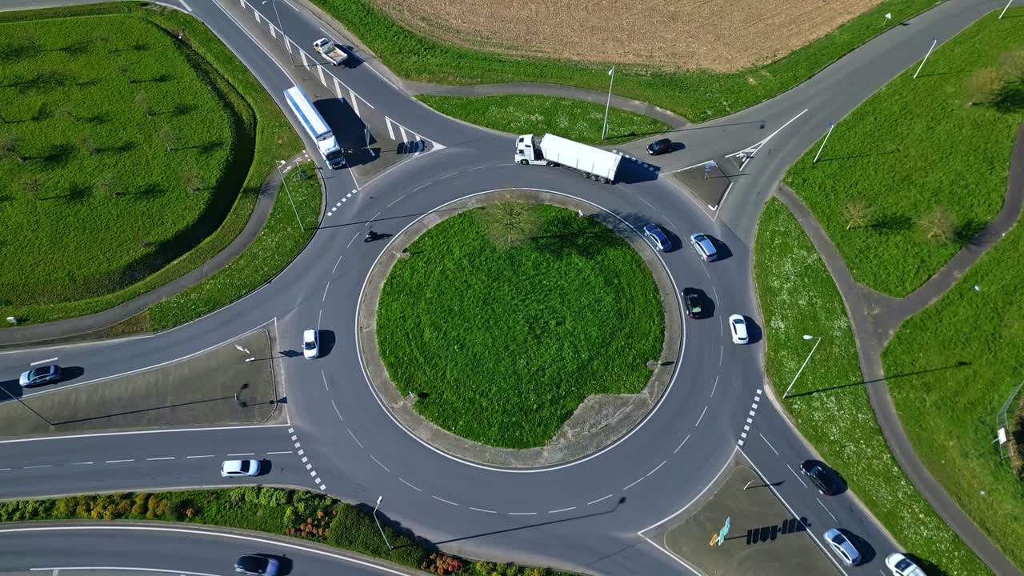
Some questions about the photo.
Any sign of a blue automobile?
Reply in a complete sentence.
Yes, the frame does contain a blue automobile.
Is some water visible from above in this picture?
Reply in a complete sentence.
No, the scene doesn't show any water.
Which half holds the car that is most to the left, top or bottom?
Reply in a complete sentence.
You can find the car that is most to the left in the bottom half.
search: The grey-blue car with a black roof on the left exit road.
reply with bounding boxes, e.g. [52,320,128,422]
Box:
[20,365,62,388]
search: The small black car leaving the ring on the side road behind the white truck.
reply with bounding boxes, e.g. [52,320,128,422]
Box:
[645,136,674,155]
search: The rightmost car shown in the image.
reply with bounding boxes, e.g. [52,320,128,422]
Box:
[884,550,922,576]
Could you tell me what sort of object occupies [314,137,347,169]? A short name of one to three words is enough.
vehicle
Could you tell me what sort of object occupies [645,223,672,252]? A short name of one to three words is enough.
car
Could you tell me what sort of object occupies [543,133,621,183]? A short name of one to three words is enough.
trailer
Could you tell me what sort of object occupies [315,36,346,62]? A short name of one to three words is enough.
truck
